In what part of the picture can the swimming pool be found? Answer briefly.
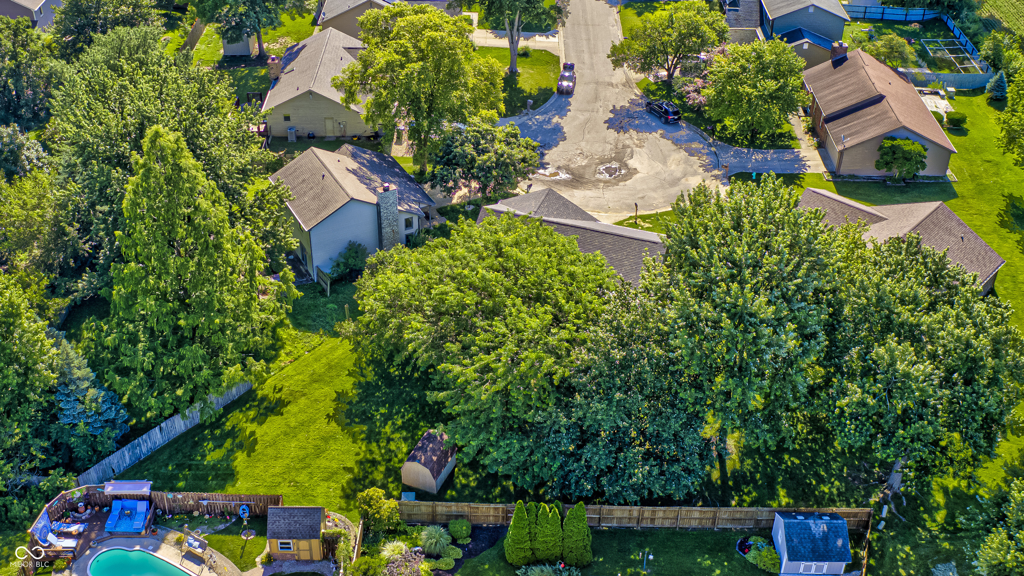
bottom left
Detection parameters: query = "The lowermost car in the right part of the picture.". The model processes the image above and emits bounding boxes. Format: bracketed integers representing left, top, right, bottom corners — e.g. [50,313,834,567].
[641,98,684,122]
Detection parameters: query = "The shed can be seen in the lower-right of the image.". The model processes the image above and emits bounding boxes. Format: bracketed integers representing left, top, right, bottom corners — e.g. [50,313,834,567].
[772,513,848,574]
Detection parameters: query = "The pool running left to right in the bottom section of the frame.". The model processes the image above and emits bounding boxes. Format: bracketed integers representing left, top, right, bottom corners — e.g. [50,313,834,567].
[82,544,201,576]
